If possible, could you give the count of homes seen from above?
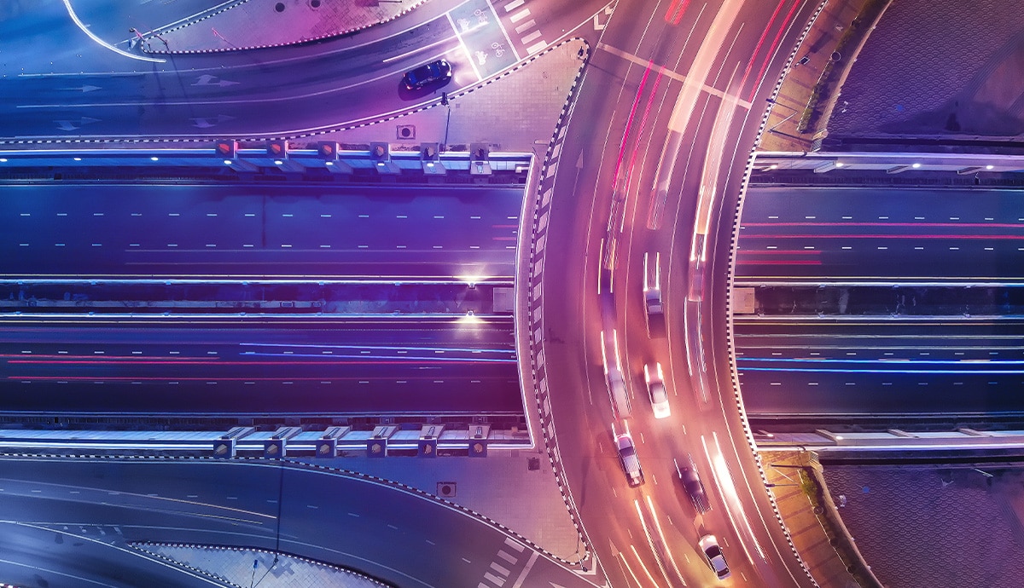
0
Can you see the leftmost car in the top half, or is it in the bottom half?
top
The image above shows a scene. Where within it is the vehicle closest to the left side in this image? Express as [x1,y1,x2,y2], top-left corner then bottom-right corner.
[399,57,452,89]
